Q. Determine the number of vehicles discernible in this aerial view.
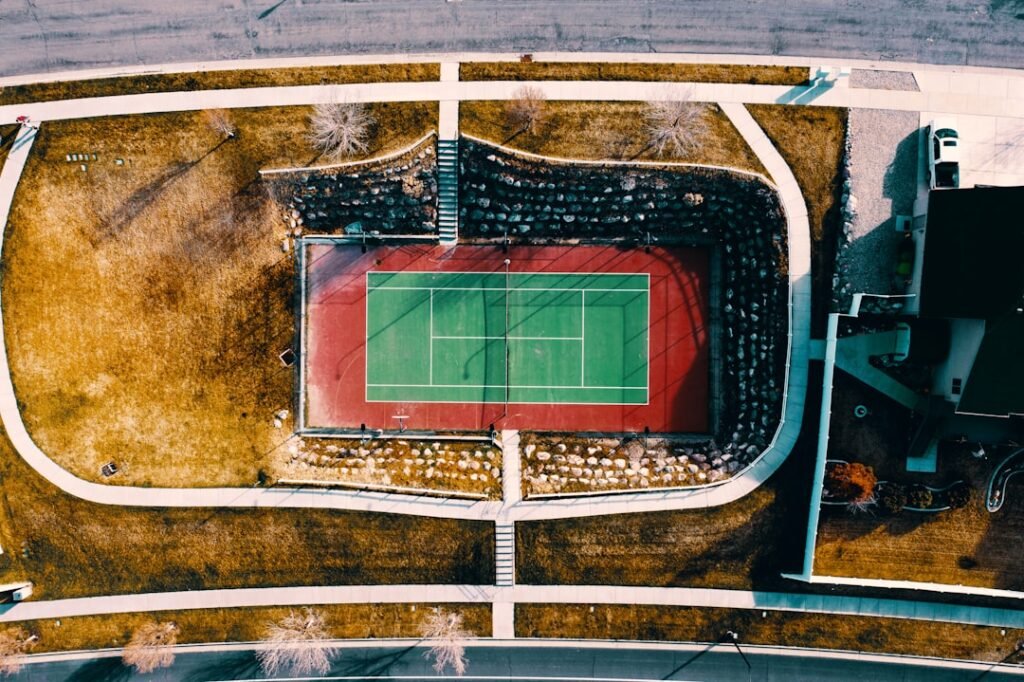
one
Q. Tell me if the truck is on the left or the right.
right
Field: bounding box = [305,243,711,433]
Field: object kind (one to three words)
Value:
tennis court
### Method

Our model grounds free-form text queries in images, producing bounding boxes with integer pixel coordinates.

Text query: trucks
[927,119,964,185]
